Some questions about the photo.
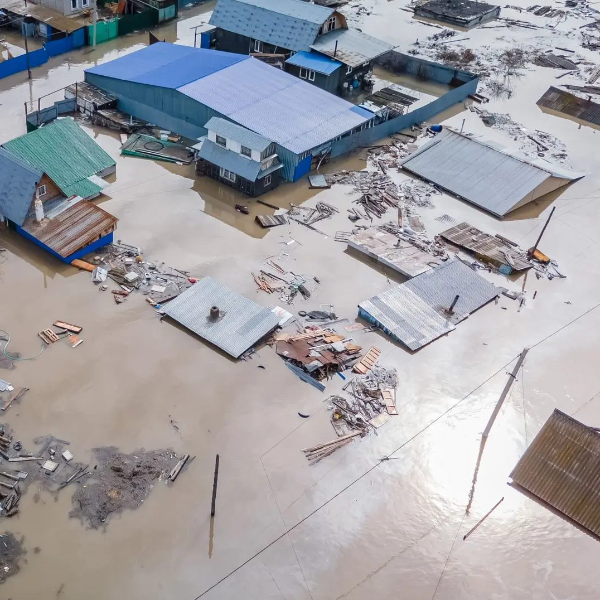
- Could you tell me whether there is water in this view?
Yes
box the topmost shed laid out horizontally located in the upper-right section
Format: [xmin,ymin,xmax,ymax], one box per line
[414,0,501,30]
